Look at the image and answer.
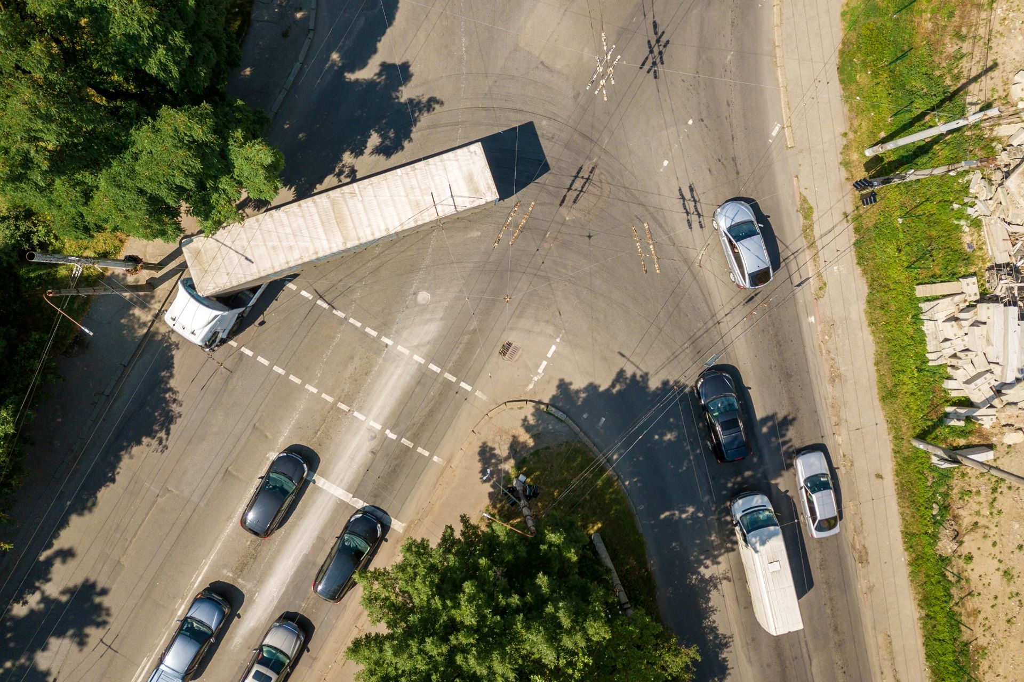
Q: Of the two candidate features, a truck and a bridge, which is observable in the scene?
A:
truck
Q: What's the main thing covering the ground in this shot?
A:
paved ground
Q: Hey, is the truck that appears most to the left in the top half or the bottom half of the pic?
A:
bottom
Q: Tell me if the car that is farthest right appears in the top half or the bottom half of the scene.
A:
bottom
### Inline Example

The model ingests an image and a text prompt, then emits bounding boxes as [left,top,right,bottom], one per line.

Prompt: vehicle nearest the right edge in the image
[791,450,840,537]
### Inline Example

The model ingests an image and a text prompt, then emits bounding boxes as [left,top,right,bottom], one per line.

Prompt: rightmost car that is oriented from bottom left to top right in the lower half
[313,509,385,604]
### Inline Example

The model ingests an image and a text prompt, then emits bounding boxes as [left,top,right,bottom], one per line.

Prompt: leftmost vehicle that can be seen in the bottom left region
[144,590,232,682]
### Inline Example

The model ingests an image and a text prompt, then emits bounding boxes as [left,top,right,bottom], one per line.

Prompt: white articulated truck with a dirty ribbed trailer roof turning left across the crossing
[156,142,499,366]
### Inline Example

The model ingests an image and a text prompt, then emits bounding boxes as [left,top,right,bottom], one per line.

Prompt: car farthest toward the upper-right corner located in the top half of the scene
[716,198,772,289]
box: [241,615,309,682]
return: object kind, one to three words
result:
car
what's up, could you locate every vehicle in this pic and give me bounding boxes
[697,368,753,461]
[791,450,840,537]
[242,450,311,538]
[313,509,385,604]
[144,590,232,682]
[156,142,499,366]
[241,615,309,682]
[731,492,804,634]
[716,198,772,289]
